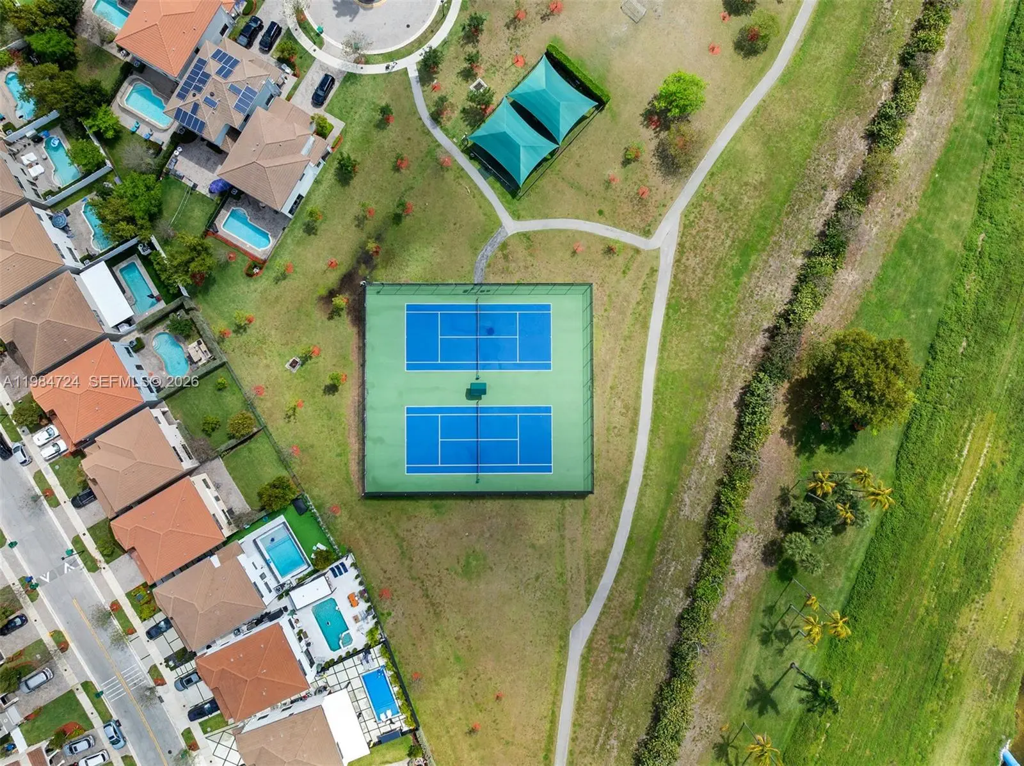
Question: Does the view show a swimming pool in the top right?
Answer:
No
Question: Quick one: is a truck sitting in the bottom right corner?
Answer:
No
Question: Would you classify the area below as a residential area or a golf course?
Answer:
residential area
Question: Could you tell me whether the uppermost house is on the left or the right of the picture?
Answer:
left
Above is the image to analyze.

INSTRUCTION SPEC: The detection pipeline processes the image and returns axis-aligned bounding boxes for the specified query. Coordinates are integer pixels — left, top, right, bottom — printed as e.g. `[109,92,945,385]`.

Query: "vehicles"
[260,21,283,55]
[22,668,55,692]
[0,613,31,634]
[173,670,204,692]
[68,487,98,508]
[189,699,220,720]
[0,433,16,464]
[238,14,264,51]
[65,733,96,756]
[29,424,60,446]
[103,720,127,749]
[11,439,35,469]
[145,616,173,638]
[80,746,113,766]
[38,438,69,460]
[313,74,336,108]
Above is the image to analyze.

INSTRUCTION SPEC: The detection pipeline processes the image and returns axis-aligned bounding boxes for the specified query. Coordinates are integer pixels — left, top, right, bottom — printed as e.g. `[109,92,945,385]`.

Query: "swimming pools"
[91,0,130,30]
[310,596,351,653]
[120,77,178,132]
[42,134,81,188]
[221,206,274,251]
[151,330,190,379]
[255,522,309,582]
[340,633,354,649]
[116,259,161,316]
[360,668,401,724]
[80,200,109,251]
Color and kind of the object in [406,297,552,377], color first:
blue tennis court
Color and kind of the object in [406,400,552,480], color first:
blue tennis court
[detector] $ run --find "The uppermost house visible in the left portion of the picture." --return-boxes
[114,0,246,83]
